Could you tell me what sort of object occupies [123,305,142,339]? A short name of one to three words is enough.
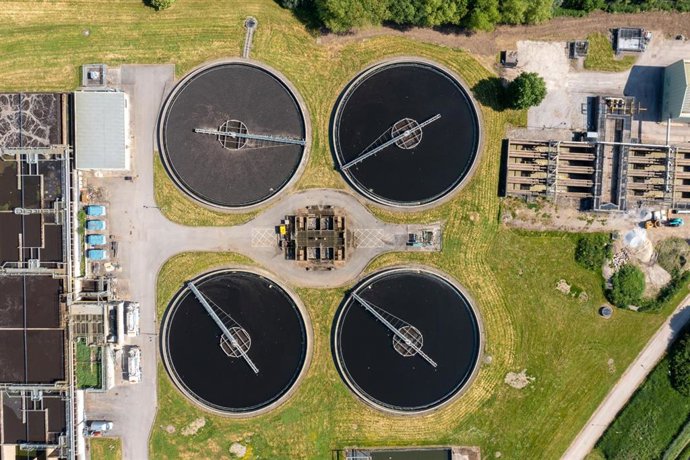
vehicle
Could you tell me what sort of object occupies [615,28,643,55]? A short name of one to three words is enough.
building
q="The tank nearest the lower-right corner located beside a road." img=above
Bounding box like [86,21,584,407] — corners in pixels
[330,263,484,417]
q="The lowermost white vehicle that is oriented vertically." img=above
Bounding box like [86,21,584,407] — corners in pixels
[125,349,143,387]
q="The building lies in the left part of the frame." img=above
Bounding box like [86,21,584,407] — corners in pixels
[73,90,133,170]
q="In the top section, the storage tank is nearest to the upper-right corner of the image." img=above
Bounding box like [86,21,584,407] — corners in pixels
[330,57,483,211]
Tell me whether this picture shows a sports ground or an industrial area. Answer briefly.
industrial area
